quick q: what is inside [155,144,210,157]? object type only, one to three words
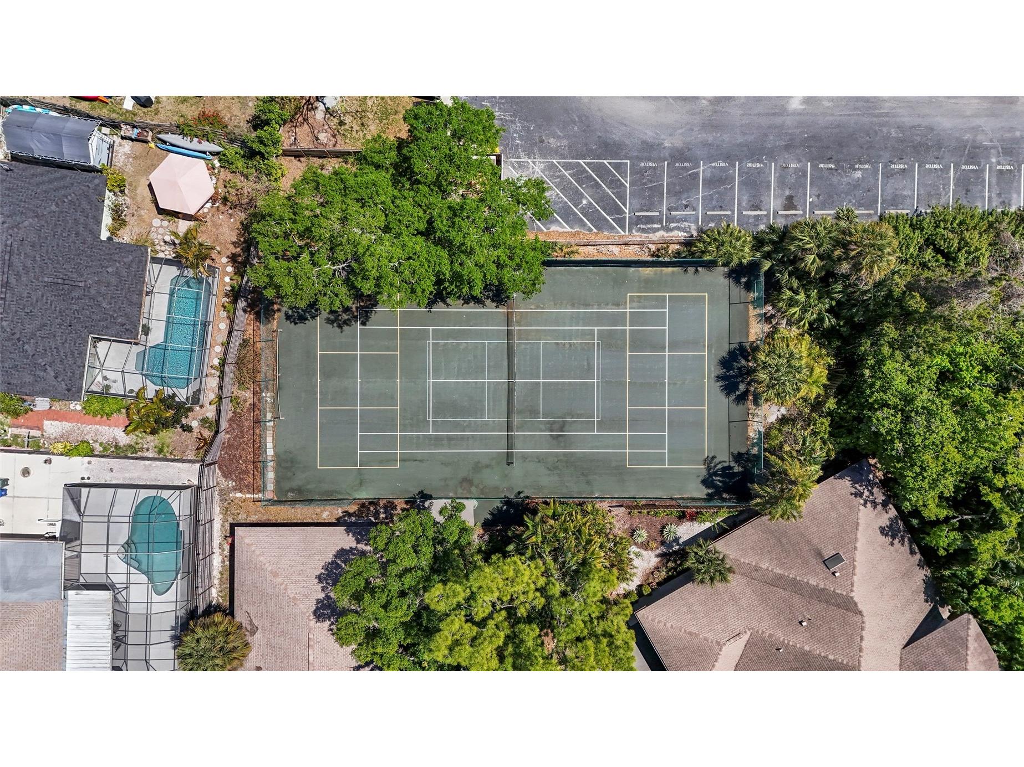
boat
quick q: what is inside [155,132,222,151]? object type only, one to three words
boat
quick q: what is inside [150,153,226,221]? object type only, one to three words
gazebo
